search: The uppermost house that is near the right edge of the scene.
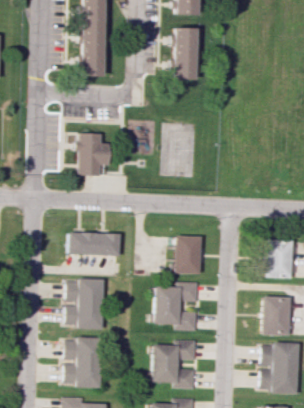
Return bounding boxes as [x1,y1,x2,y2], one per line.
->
[264,241,293,279]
